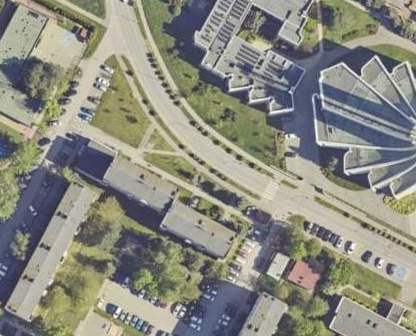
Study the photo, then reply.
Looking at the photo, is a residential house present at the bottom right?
Yes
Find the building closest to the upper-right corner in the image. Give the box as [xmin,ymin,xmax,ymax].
[312,56,416,205]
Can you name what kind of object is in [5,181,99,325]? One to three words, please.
building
